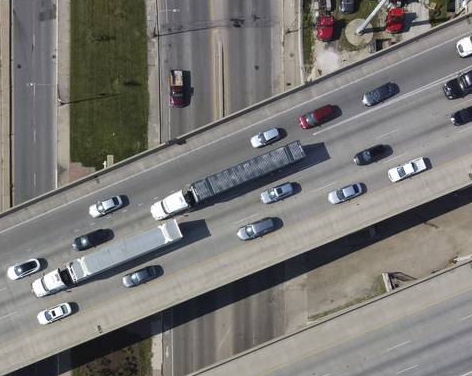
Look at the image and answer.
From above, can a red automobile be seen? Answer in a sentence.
Yes, there's a red automobile here.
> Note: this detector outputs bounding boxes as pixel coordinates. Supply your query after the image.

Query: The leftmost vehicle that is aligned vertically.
[170,69,186,109]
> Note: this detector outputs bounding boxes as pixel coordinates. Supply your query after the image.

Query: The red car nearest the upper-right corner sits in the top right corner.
[385,6,403,38]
